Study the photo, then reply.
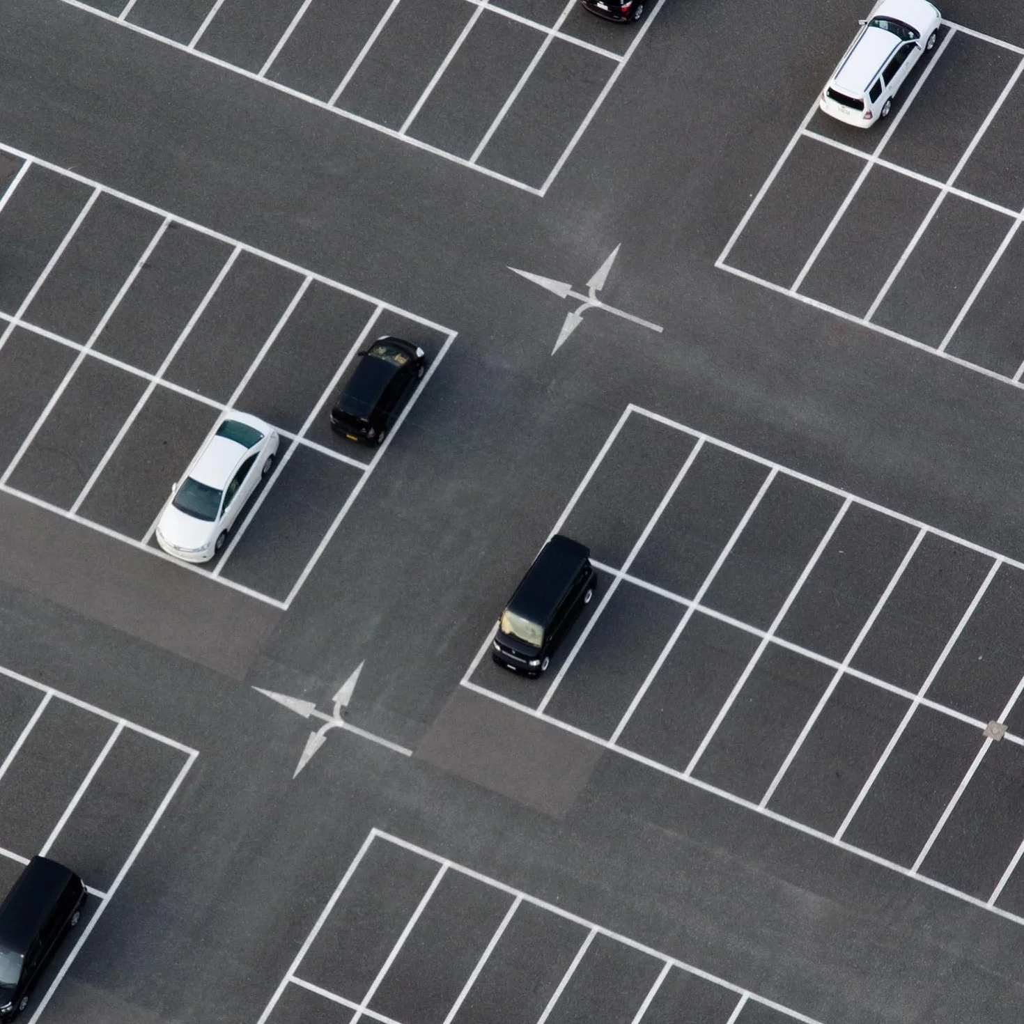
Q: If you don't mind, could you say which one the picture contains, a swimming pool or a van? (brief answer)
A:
van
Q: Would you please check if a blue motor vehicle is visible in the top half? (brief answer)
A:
No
